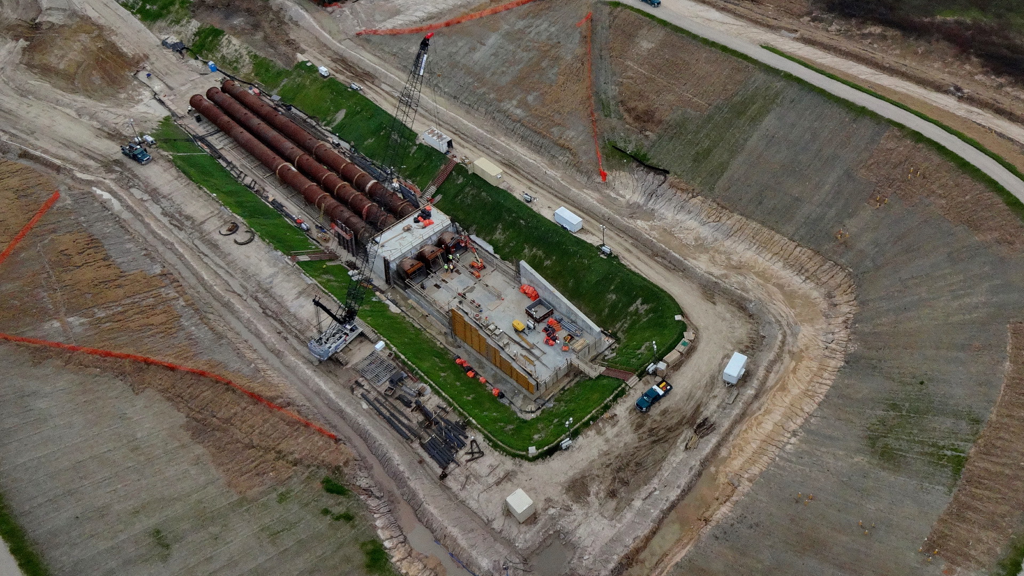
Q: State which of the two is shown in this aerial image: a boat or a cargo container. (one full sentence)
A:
Of the two, only a cargo container appears.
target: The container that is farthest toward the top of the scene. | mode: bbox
[423,128,457,156]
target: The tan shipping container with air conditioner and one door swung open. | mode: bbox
[472,157,504,187]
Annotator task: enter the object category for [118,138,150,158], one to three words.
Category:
vehicle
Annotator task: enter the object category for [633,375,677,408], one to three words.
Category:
truck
